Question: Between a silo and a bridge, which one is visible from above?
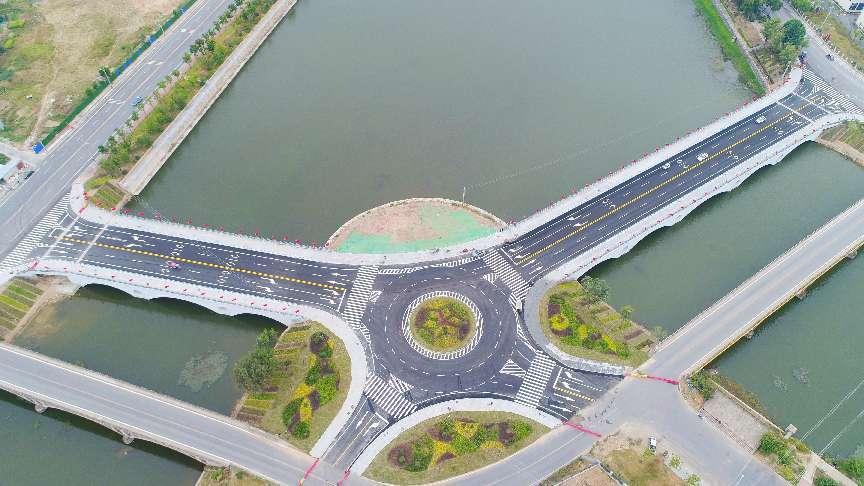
bridge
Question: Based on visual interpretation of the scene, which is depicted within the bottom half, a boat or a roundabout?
roundabout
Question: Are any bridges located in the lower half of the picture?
Yes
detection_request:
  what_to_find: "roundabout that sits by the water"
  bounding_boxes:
[320,243,624,472]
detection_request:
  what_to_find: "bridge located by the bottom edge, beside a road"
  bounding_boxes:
[0,342,233,464]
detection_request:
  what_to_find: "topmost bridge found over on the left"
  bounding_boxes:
[0,193,357,324]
